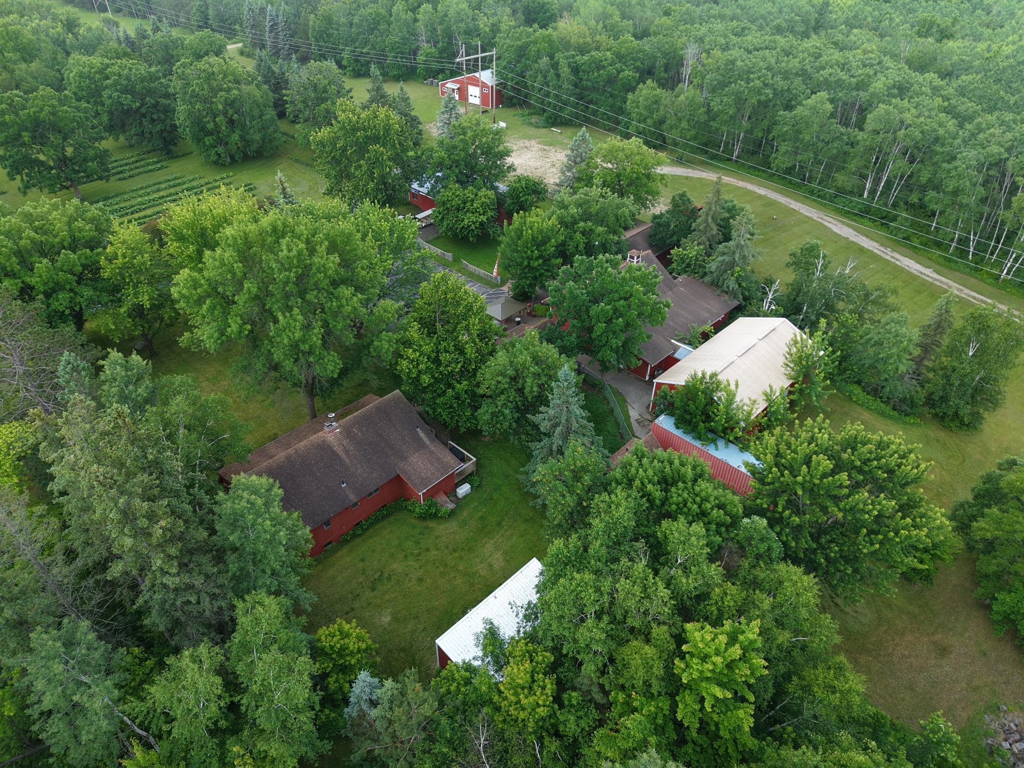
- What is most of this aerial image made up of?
trees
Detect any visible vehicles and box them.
[413,208,438,230]
[394,206,411,225]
